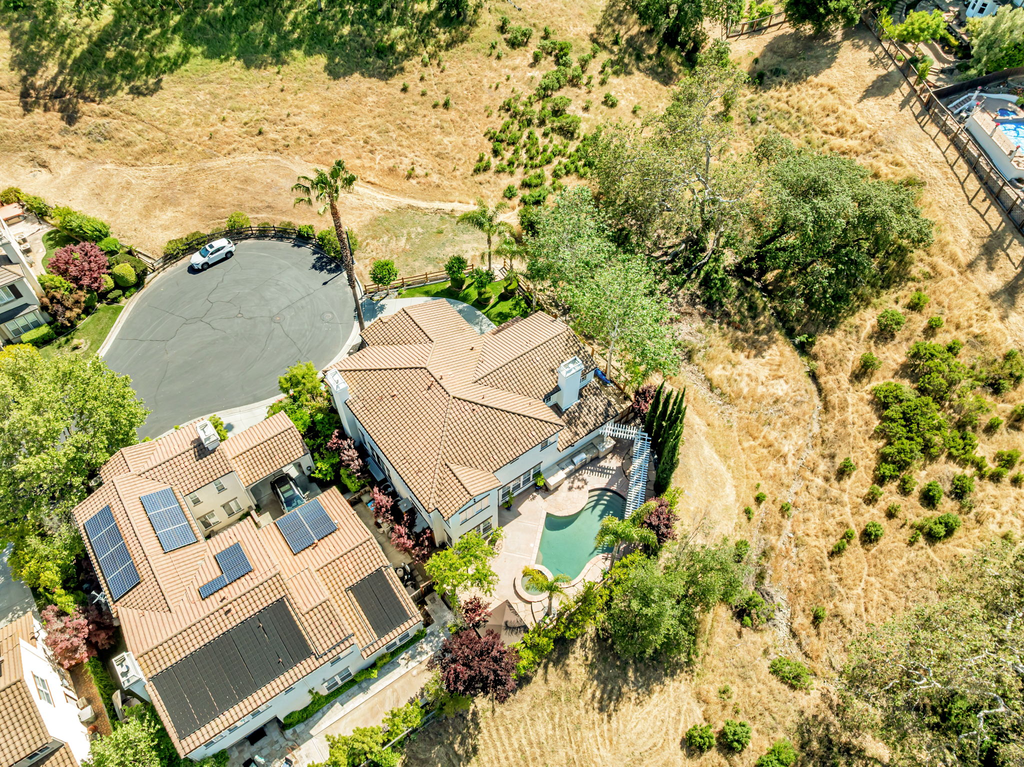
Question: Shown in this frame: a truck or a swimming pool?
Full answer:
I can see a swimming pool in this picture.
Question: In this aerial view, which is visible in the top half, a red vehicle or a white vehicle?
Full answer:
You can see a white vehicle in the top half.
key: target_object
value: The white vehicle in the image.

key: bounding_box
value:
[187,237,236,270]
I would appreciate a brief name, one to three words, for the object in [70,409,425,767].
house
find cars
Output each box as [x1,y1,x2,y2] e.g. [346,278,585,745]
[266,469,309,514]
[187,237,236,270]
